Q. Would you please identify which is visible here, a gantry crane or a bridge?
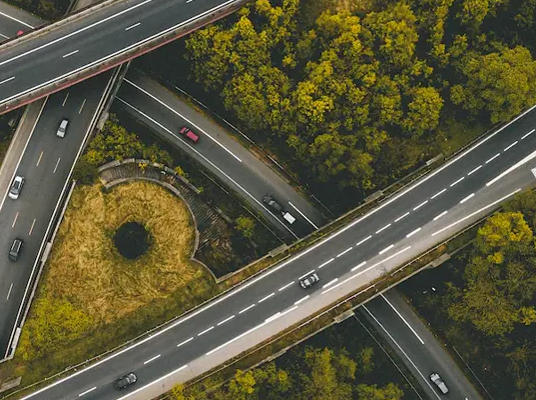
bridge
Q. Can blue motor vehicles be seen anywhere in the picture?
No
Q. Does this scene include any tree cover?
Yes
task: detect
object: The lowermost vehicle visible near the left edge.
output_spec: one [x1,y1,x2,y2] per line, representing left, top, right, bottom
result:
[7,237,23,262]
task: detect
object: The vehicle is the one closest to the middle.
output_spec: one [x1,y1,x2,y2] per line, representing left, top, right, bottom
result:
[261,193,283,213]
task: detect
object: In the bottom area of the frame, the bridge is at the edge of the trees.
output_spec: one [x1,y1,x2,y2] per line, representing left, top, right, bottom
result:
[193,152,467,393]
